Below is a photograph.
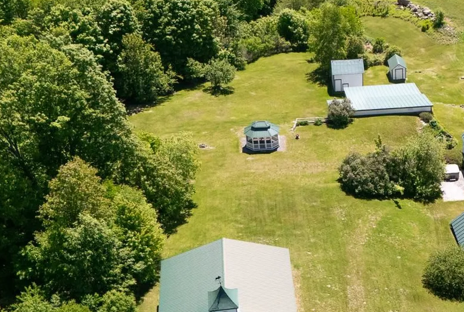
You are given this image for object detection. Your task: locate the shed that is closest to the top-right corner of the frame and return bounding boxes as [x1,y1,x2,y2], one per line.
[388,55,407,79]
